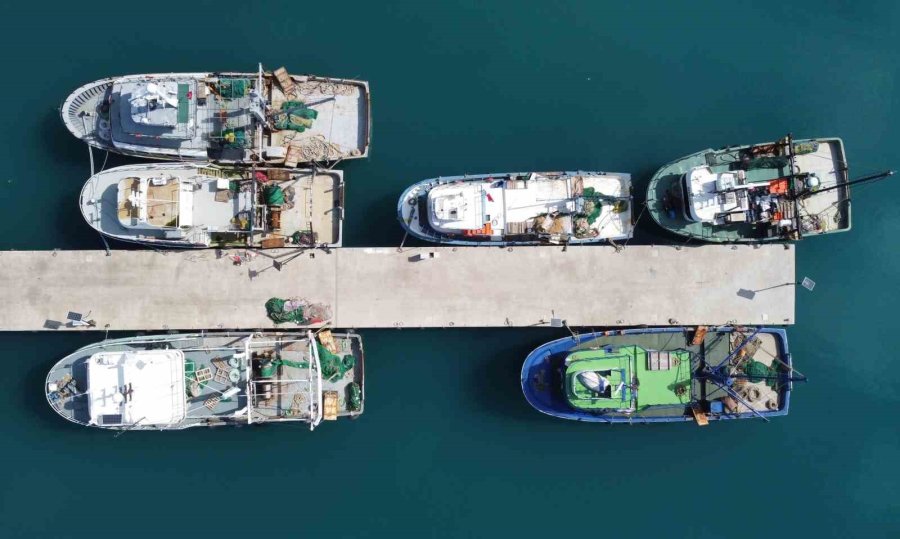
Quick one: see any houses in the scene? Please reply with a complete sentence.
No, I can't see a single house in this photo.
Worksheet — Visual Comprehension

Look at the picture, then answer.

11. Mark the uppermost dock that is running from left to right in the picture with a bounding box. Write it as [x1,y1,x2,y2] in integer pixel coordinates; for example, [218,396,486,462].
[0,245,795,331]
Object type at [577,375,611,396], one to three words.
boat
